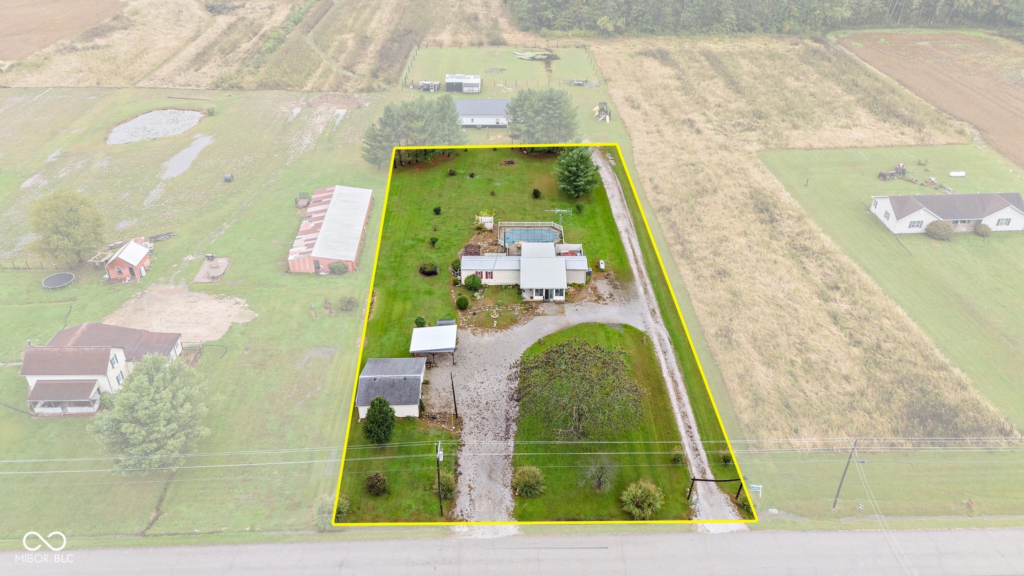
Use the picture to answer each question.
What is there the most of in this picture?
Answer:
grass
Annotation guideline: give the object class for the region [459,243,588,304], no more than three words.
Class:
house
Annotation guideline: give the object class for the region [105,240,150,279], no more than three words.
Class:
shed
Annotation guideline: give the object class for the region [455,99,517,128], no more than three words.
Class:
house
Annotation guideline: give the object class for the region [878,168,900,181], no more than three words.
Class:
vehicle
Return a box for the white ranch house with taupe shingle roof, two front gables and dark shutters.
[873,189,1024,234]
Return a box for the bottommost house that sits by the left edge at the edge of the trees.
[20,321,182,414]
